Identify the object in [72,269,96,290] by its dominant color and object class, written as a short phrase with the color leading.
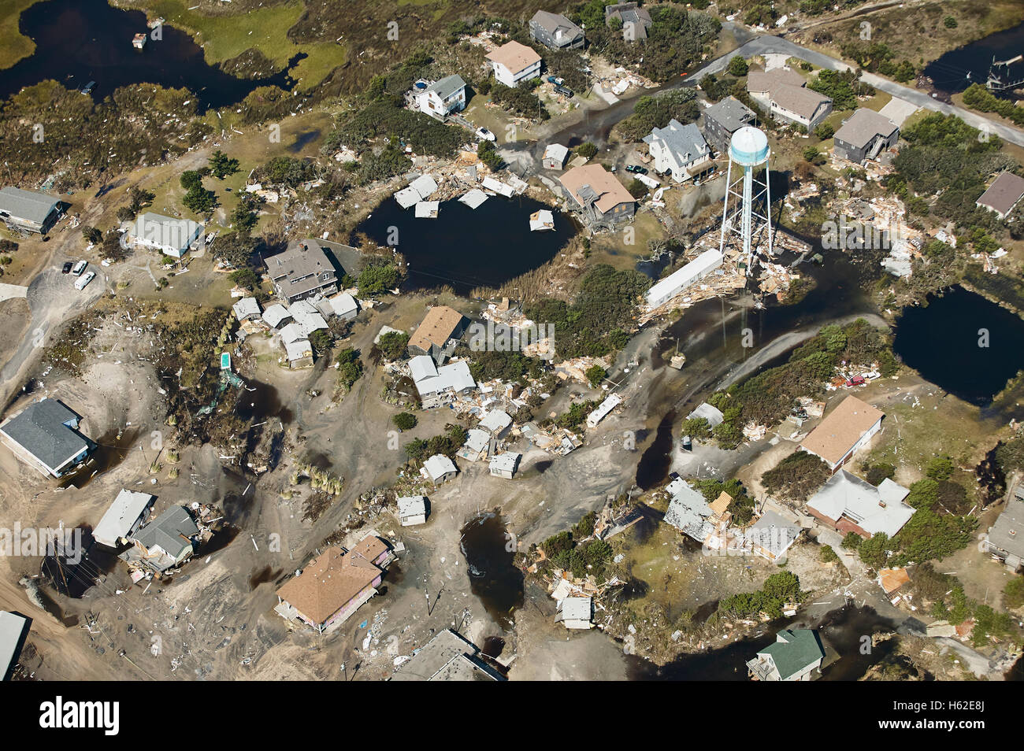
white vehicle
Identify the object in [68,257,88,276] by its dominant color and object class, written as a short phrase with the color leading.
white car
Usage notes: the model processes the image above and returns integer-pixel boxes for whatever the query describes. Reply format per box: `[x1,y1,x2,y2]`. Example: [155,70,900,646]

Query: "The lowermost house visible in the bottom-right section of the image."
[746,629,823,698]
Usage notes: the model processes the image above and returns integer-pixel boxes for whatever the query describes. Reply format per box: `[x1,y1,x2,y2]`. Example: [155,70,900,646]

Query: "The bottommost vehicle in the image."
[661,467,684,484]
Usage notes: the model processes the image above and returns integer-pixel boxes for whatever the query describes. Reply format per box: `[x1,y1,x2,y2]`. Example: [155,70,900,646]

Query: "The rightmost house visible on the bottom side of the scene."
[983,486,1024,568]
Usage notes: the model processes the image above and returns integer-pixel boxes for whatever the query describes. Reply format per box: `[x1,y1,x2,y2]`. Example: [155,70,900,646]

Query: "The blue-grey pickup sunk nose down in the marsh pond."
[80,76,98,94]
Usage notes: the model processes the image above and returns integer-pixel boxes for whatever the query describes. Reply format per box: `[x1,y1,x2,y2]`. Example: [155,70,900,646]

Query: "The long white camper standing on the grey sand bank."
[586,387,626,428]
